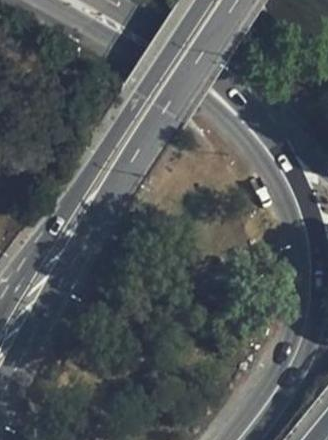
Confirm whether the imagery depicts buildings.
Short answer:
No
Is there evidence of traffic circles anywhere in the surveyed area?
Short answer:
No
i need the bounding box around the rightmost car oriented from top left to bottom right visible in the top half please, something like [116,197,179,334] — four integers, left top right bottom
[276,152,293,173]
